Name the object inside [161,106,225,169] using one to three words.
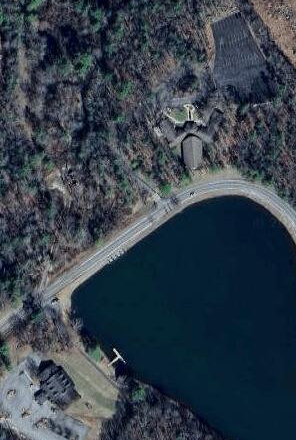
building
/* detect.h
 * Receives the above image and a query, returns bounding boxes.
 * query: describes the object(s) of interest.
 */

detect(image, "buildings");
[28,360,78,407]
[161,106,225,169]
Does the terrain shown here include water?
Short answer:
Yes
